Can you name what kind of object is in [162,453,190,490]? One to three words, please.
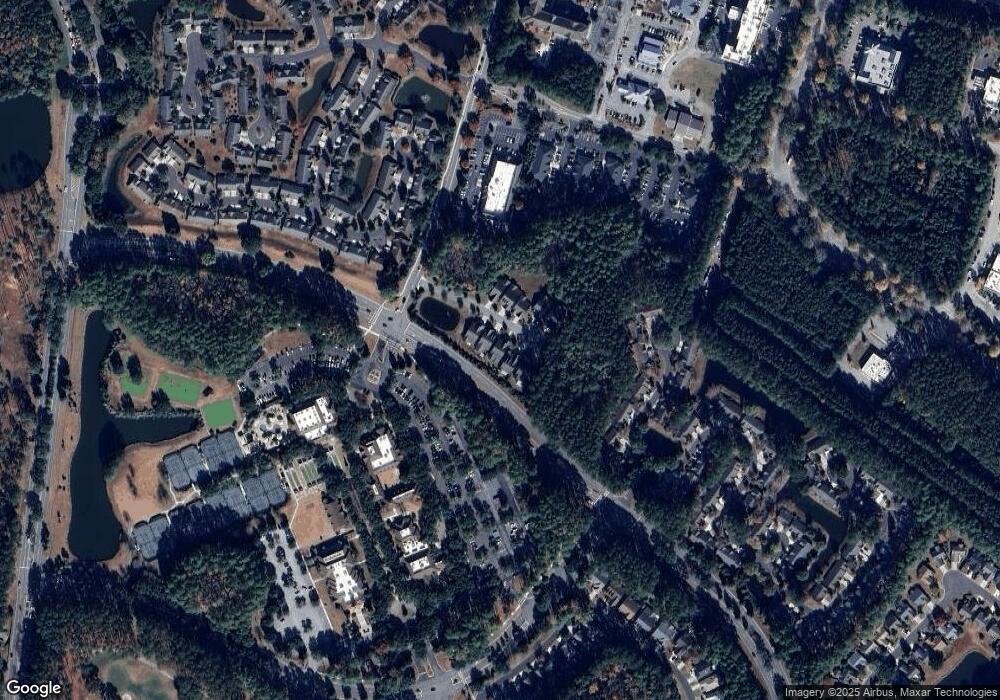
tennis court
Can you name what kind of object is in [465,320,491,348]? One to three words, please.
house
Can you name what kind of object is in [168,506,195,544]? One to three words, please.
tennis court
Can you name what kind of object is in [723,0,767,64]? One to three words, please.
building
